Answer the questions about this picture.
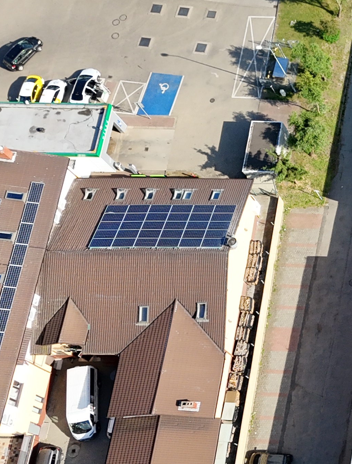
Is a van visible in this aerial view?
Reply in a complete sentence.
Yes, a van can be made out from above.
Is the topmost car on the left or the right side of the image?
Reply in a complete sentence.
It is on the left.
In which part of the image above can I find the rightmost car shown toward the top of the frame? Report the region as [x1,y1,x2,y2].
[69,72,101,103]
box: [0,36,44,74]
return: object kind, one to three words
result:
car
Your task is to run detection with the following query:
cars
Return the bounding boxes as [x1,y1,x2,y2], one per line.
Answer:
[0,36,44,74]
[246,449,298,464]
[102,390,123,439]
[35,447,63,464]
[14,74,45,102]
[40,79,69,102]
[69,72,101,103]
